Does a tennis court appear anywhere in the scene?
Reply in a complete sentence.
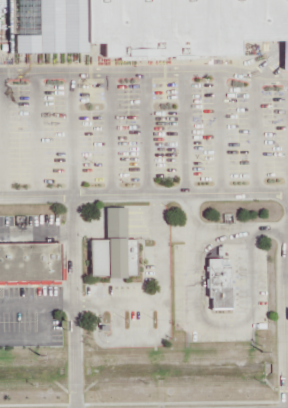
No, no tennis court is visible in the scene.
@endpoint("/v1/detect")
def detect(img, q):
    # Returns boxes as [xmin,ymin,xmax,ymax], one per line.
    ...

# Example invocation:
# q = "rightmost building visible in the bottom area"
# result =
[206,244,234,310]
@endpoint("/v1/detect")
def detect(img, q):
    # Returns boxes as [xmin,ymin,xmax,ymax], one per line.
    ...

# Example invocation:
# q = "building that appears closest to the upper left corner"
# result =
[16,0,42,34]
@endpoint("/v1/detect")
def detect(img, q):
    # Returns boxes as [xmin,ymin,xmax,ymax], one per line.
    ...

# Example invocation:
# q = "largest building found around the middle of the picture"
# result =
[90,208,142,278]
